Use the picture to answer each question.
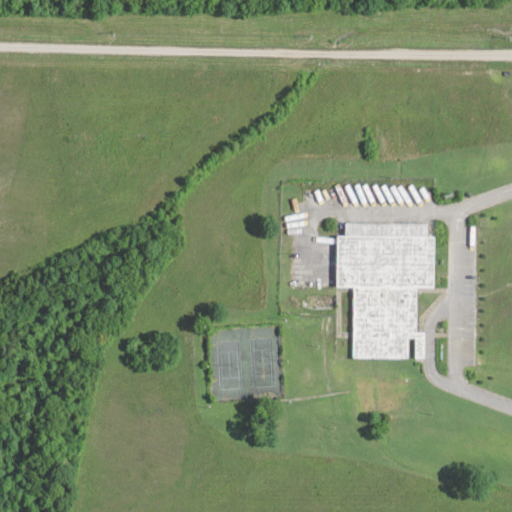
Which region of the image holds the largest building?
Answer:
right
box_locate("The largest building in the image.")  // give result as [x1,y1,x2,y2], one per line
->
[336,223,436,360]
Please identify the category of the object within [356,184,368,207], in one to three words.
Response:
vehicle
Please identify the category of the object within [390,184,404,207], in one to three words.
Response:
vehicle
